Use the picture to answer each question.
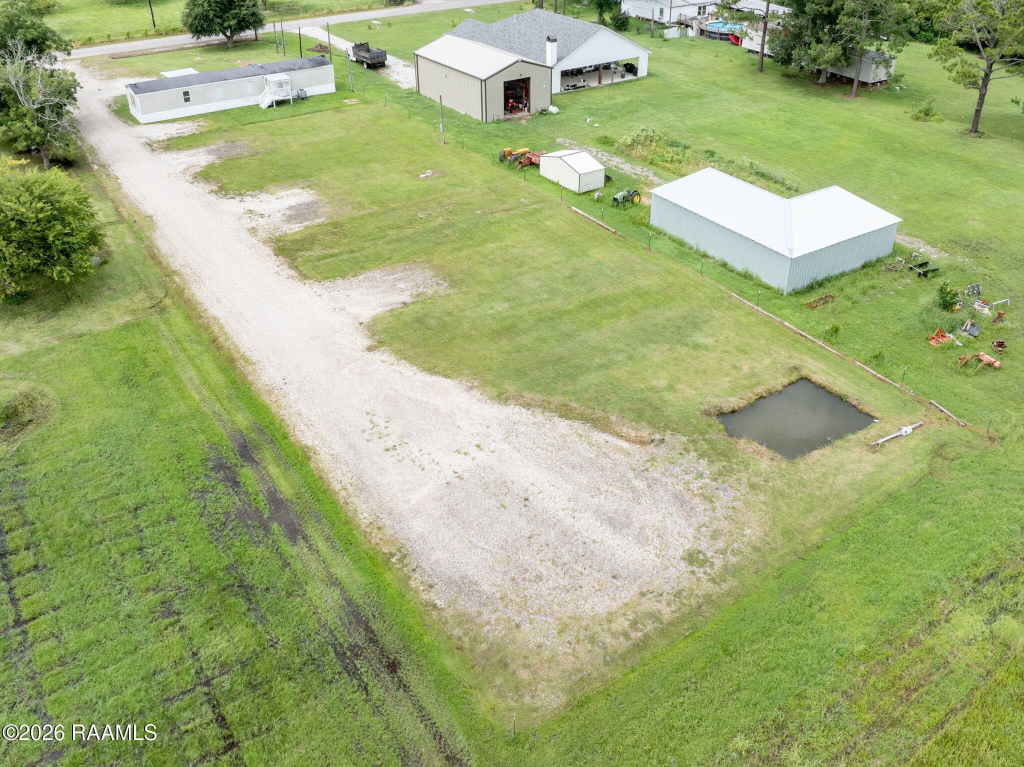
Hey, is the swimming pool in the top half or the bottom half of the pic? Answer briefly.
top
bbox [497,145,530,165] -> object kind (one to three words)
work vehicle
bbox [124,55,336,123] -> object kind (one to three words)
house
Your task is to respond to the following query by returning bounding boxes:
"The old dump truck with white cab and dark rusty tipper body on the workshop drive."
[352,42,390,68]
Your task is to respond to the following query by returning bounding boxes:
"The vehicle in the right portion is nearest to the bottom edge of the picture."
[608,183,643,207]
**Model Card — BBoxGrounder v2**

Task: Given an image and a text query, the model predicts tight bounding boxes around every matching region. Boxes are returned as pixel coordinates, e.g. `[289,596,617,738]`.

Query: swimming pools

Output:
[696,19,744,42]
